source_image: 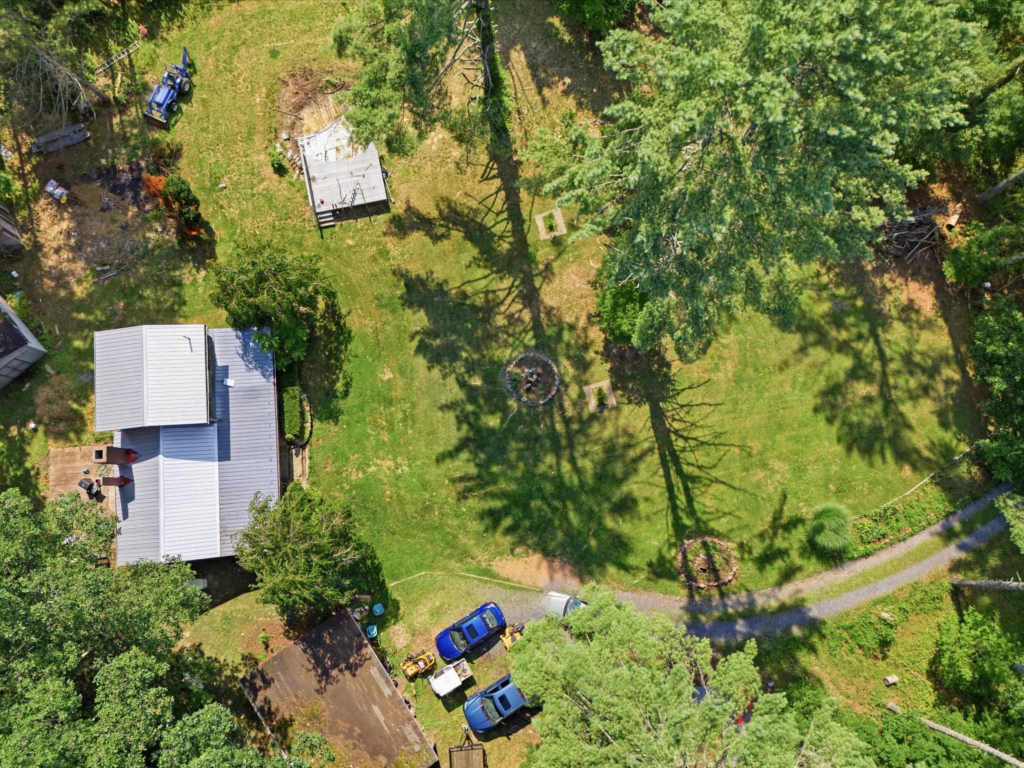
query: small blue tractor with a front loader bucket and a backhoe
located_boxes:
[138,49,200,135]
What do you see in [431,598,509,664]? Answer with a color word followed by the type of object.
blue car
